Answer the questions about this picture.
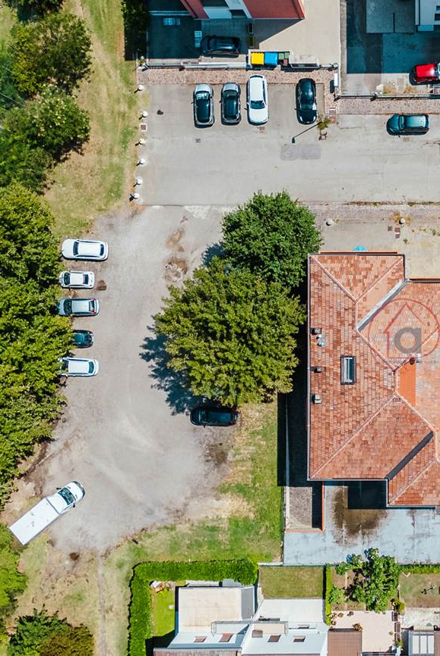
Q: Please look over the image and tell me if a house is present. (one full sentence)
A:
Yes, I can see a house in this picture.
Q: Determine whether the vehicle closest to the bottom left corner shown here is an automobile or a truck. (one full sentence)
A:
I'd identify the vehicle closest to the bottom left corner as a truck.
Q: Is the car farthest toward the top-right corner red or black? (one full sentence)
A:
The color of the car farthest toward the top-right corner is red.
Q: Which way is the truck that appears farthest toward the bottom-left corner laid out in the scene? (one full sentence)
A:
The truck that appears farthest toward the bottom-left corner is oriented on a diagonal.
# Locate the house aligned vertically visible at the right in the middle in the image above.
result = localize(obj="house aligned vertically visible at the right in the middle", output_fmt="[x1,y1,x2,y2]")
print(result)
[308,250,440,509]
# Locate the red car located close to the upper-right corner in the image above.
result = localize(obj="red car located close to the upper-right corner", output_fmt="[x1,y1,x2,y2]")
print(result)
[412,60,440,84]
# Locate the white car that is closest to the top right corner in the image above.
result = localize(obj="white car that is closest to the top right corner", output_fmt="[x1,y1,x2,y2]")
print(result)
[245,76,268,124]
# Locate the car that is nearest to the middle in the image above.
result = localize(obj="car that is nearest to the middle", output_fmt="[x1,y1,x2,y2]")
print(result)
[191,406,237,427]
